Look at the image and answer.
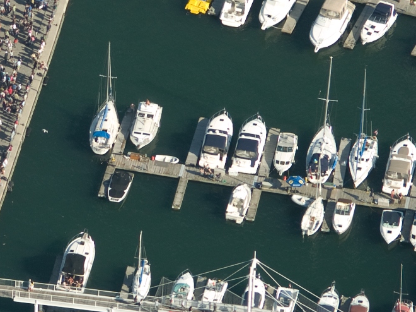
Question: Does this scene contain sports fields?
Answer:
No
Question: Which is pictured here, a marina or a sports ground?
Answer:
marina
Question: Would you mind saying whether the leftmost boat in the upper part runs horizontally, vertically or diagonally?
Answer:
vertically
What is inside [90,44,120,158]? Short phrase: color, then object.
white boat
